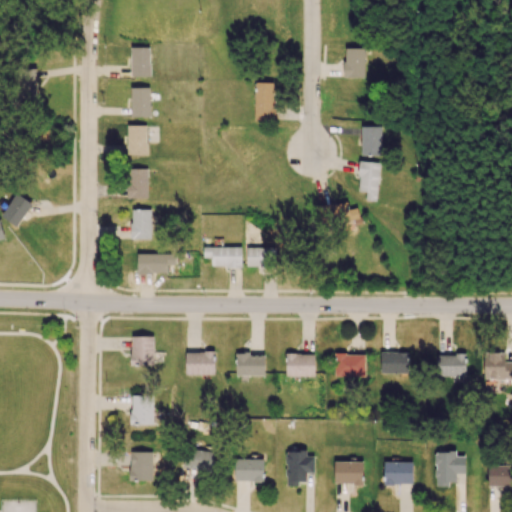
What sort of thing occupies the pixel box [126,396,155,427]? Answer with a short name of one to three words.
house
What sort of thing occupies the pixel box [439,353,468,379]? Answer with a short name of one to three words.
house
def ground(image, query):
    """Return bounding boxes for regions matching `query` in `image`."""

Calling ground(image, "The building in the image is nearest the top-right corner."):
[344,48,366,78]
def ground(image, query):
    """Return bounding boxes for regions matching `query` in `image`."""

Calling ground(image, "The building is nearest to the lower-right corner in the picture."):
[490,466,512,488]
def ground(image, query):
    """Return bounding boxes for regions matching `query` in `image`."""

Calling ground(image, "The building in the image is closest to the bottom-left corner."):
[130,452,154,482]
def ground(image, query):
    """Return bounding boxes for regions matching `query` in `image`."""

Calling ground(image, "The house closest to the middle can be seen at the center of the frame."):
[247,248,275,268]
